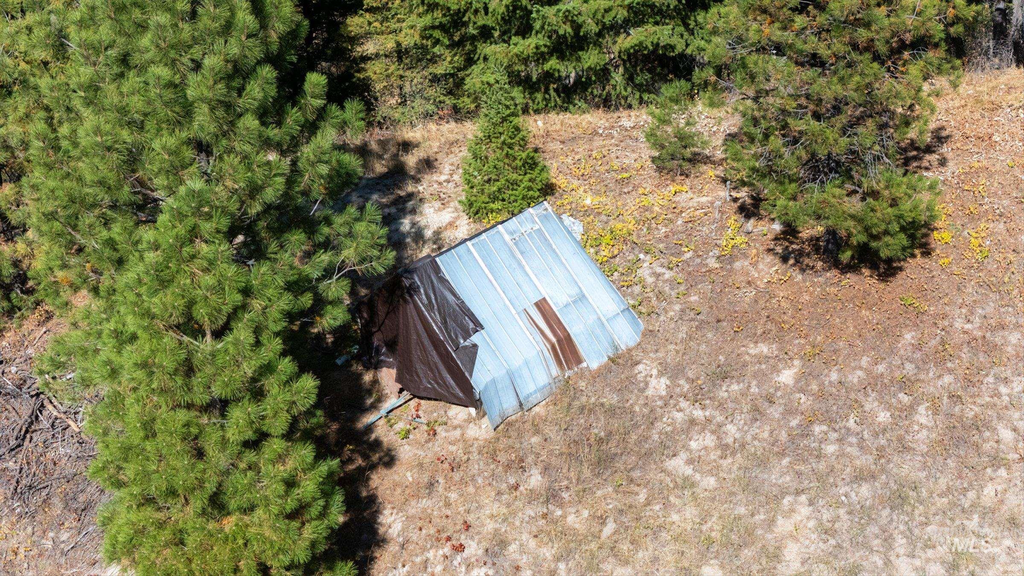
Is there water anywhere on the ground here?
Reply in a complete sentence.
No, water can't be seen anywhere here.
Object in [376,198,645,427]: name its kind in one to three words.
shed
